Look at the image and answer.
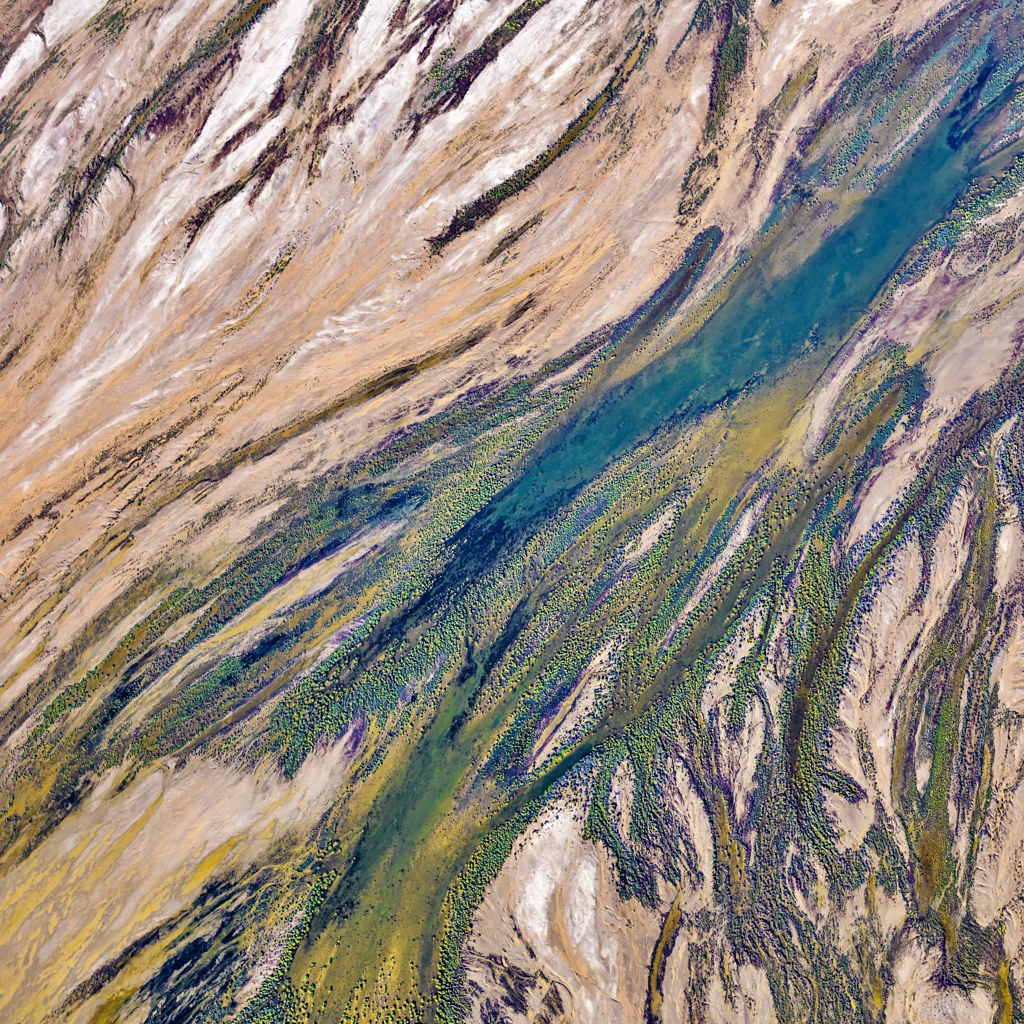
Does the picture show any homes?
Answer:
No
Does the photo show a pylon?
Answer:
No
